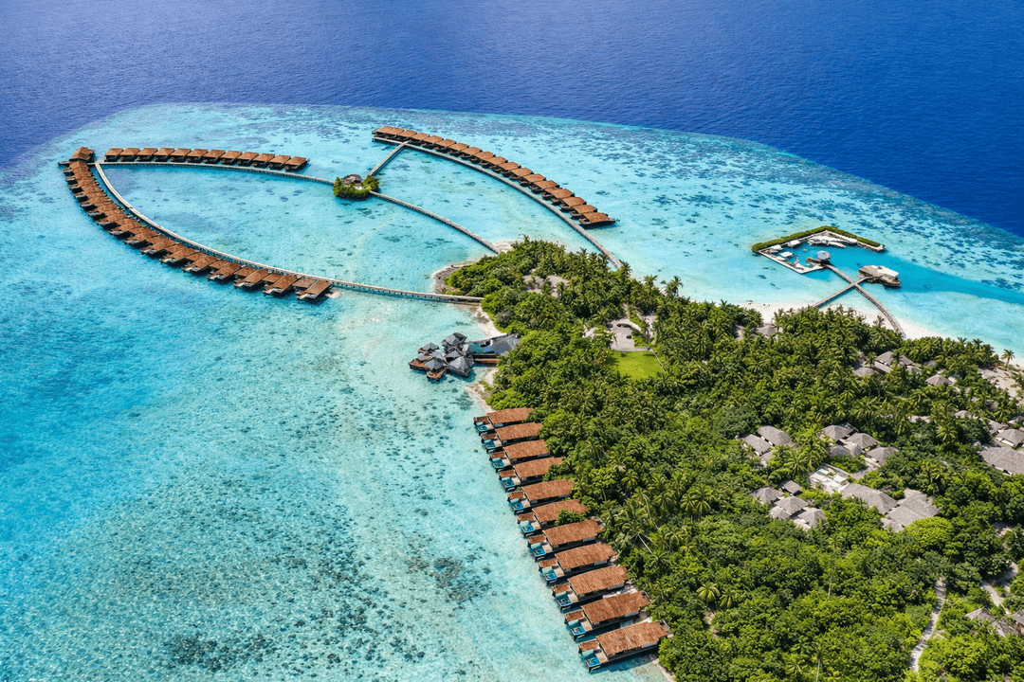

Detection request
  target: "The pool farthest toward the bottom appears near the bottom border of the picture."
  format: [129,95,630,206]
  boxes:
[577,650,595,670]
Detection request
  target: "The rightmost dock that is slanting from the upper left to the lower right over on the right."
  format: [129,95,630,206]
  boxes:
[825,264,907,336]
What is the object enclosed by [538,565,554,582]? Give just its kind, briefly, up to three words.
swimming pool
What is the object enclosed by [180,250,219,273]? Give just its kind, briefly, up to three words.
house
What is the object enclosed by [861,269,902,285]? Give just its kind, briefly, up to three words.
building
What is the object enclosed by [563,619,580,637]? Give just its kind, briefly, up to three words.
swimming pool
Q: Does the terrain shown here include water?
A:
Yes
